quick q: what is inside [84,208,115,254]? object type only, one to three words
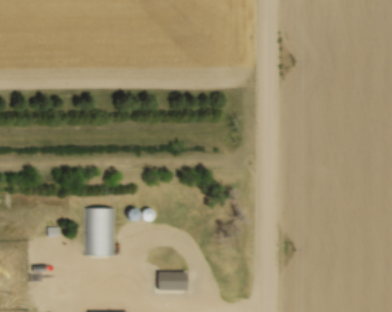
barn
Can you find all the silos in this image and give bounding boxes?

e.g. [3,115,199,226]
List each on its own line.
[141,208,156,222]
[126,208,142,222]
